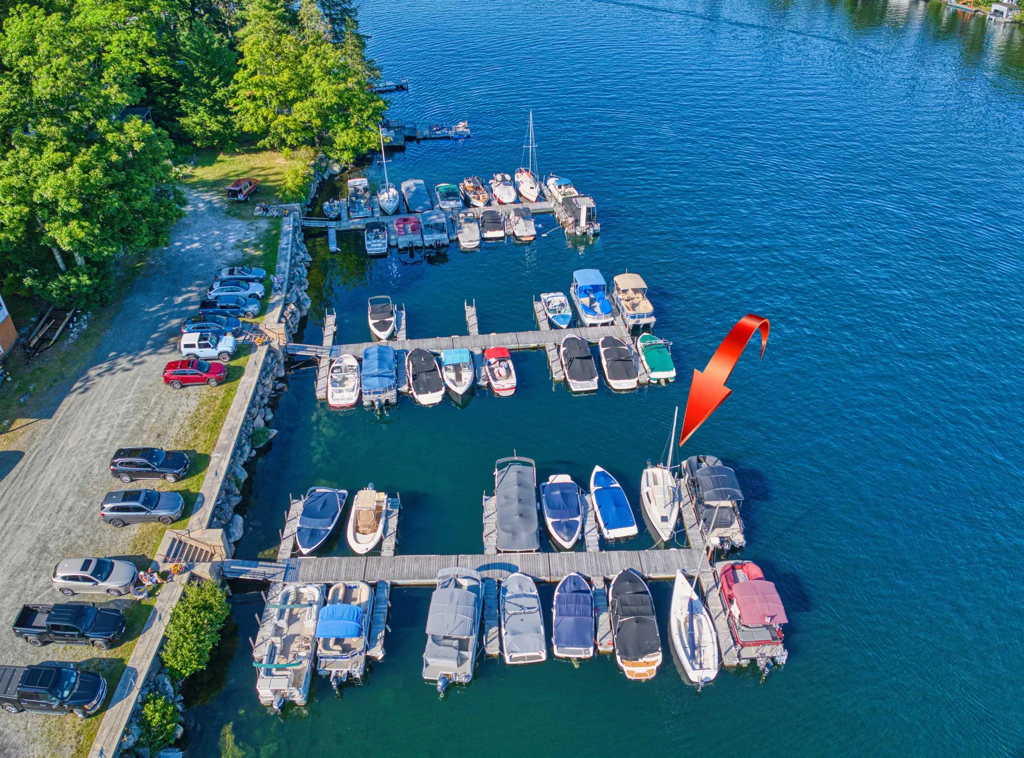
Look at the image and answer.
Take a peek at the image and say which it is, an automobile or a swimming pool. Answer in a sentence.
Visible in the photo is an automobile.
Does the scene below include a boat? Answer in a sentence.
Yes, the image includes a boat.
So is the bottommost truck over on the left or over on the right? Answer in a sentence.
The bottommost truck sits on the left side.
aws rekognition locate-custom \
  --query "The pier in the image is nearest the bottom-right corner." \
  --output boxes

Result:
[699,576,746,669]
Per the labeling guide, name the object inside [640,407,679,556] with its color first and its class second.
white boat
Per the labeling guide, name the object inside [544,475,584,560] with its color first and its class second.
blue boat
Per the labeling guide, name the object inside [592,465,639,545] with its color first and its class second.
blue boat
